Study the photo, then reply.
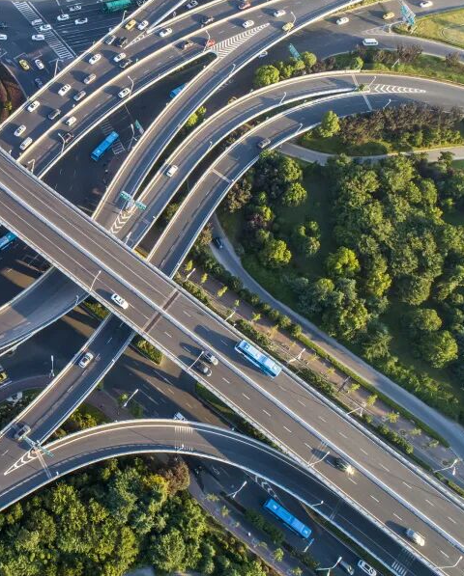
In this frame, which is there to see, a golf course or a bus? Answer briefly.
bus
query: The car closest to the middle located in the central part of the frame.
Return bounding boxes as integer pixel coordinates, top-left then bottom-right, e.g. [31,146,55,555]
[211,234,223,251]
